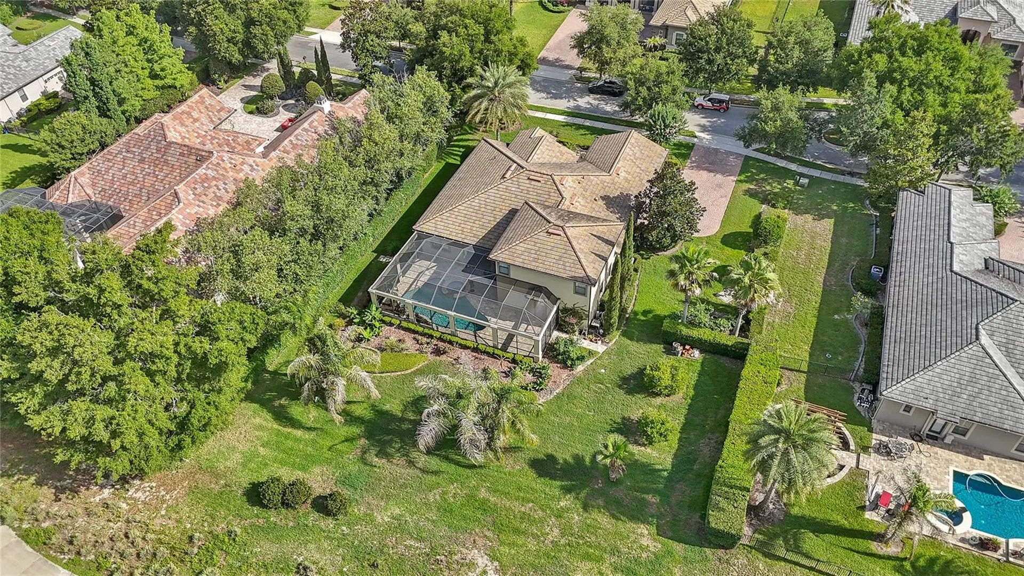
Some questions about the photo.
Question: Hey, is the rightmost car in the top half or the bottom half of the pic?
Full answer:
It is in the top half that the rightmost car appears.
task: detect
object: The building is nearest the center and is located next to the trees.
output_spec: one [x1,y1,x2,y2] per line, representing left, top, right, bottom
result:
[412,126,670,328]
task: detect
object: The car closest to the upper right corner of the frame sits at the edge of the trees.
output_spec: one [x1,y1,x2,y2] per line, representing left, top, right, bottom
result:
[695,92,732,112]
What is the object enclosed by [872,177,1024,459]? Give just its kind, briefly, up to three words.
house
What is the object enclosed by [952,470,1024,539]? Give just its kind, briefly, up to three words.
swimming pool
